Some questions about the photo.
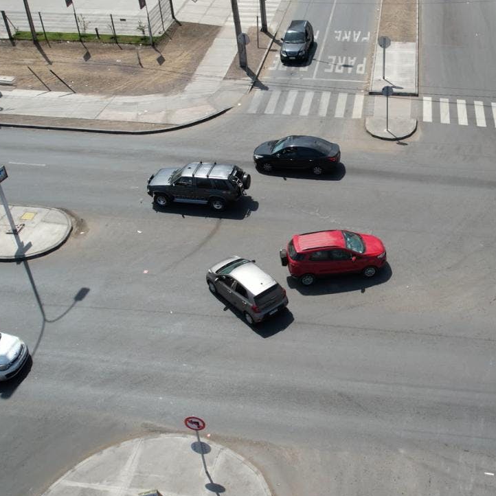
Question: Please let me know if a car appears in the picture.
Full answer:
Yes, there is a car in the image.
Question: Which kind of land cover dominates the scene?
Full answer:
What you mostly see from above here is paved ground.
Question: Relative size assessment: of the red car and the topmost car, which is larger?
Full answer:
The red car is bigger than the topmost car.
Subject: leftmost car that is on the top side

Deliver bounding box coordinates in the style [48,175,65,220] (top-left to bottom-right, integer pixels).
[138,157,247,213]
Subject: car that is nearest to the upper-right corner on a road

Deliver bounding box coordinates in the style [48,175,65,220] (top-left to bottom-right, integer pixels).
[280,21,316,58]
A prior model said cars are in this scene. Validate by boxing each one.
[206,254,293,327]
[280,21,316,58]
[251,133,341,175]
[279,225,385,286]
[138,157,247,213]
[0,322,28,379]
